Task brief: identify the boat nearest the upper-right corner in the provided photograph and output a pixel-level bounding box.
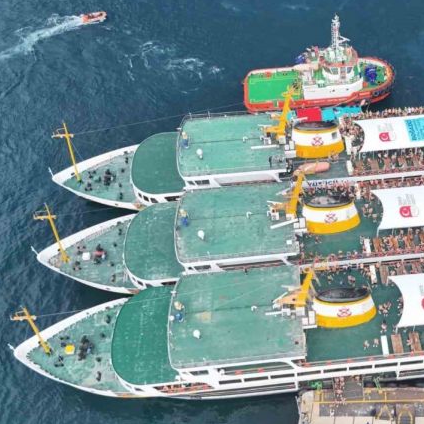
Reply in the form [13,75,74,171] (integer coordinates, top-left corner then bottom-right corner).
[242,12,397,116]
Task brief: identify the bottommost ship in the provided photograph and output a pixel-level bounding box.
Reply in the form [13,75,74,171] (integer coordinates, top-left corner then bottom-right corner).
[3,257,424,402]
